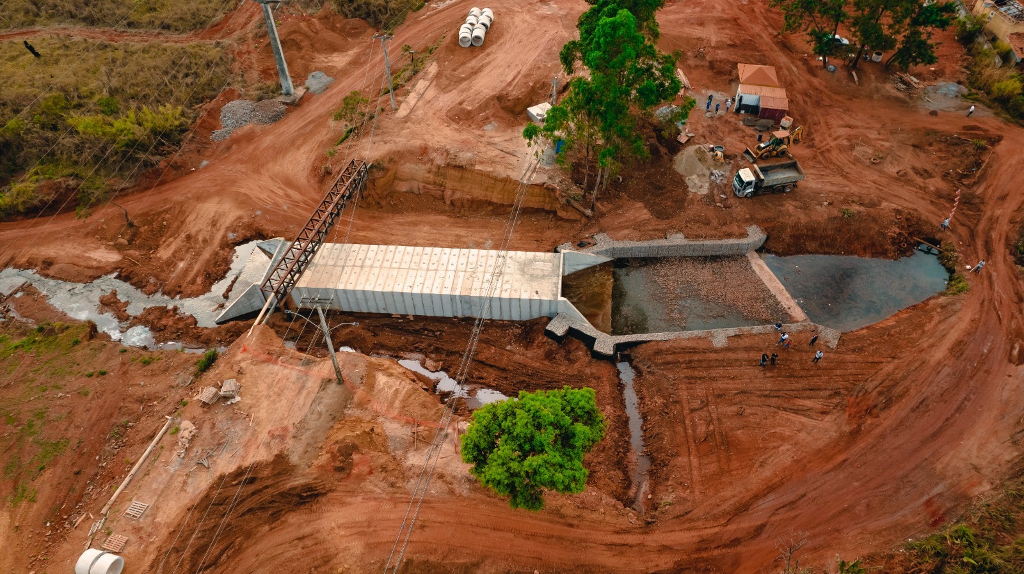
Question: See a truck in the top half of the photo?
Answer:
Yes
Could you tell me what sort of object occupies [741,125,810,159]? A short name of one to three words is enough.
work vehicle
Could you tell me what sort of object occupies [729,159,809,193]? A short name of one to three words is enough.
truck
